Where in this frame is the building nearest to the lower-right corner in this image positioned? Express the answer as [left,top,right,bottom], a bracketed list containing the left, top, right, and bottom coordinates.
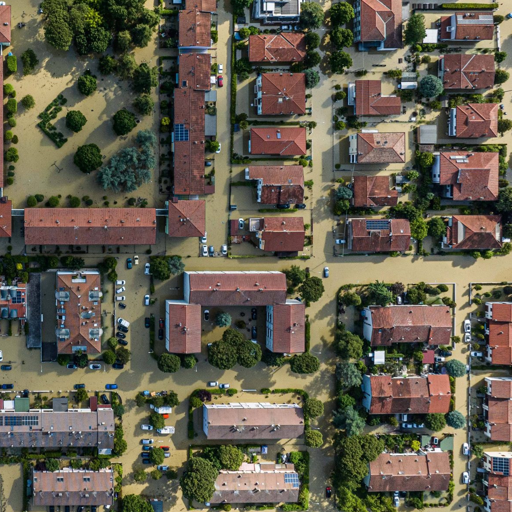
[478,451,512,512]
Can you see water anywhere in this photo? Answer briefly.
Yes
